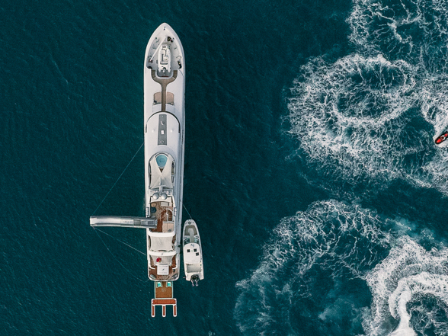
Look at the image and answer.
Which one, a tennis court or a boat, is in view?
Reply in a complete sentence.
The image shows a boat.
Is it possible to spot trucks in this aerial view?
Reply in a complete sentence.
No, I find no truck anywhere in the image.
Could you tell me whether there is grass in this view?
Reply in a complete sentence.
No, there's no grass in this view.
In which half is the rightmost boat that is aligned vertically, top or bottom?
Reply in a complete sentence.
It is in the bottom half that the rightmost boat that is aligned vertically appears.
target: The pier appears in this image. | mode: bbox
[152,298,177,317]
